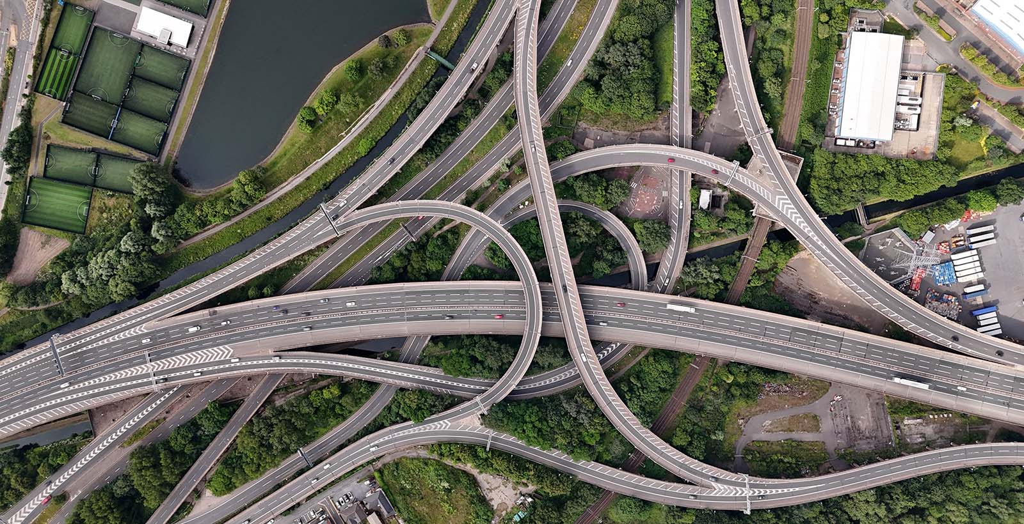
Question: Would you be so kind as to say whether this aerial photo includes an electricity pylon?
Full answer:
Yes, I can see an electricity pylon in this picture.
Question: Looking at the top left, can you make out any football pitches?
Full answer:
Yes, a football pitch shows up at the top left.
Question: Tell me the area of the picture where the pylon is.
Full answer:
Look in the right portion of the view to spot the pylon.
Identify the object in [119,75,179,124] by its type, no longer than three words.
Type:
soccer field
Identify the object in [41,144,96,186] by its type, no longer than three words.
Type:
soccer field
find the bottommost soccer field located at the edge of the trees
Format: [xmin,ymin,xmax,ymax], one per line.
[19,176,93,234]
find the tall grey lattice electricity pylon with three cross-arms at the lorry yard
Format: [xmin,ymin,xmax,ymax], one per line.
[884,242,942,272]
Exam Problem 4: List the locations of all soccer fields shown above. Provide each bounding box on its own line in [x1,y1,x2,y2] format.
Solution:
[49,1,94,55]
[93,153,147,193]
[108,107,168,156]
[159,0,211,17]
[71,25,141,105]
[119,75,179,124]
[19,176,93,234]
[58,91,119,137]
[32,46,80,101]
[41,144,96,186]
[130,44,191,92]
